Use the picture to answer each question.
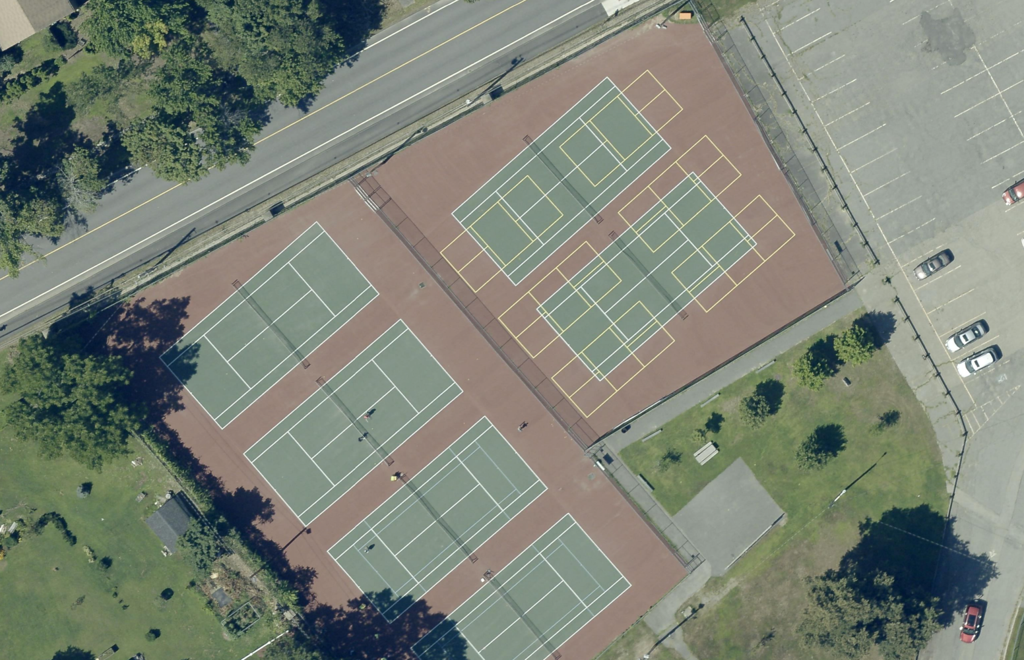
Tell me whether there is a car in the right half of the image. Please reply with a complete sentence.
Yes, a car can be seen in the right half of the image.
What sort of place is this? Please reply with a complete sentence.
The area seen from above is a sports ground.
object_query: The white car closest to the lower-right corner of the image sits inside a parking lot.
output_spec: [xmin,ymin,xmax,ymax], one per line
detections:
[958,346,999,376]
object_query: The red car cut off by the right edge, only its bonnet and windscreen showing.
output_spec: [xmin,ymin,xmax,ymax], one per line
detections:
[1001,178,1024,202]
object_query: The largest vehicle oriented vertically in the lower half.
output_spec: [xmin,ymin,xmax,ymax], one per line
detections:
[960,603,981,644]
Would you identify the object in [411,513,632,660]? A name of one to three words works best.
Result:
tennis court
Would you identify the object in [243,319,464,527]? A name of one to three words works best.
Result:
tennis court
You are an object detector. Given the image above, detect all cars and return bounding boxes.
[1001,178,1024,202]
[947,320,987,350]
[958,346,999,376]
[960,603,981,644]
[913,249,954,280]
